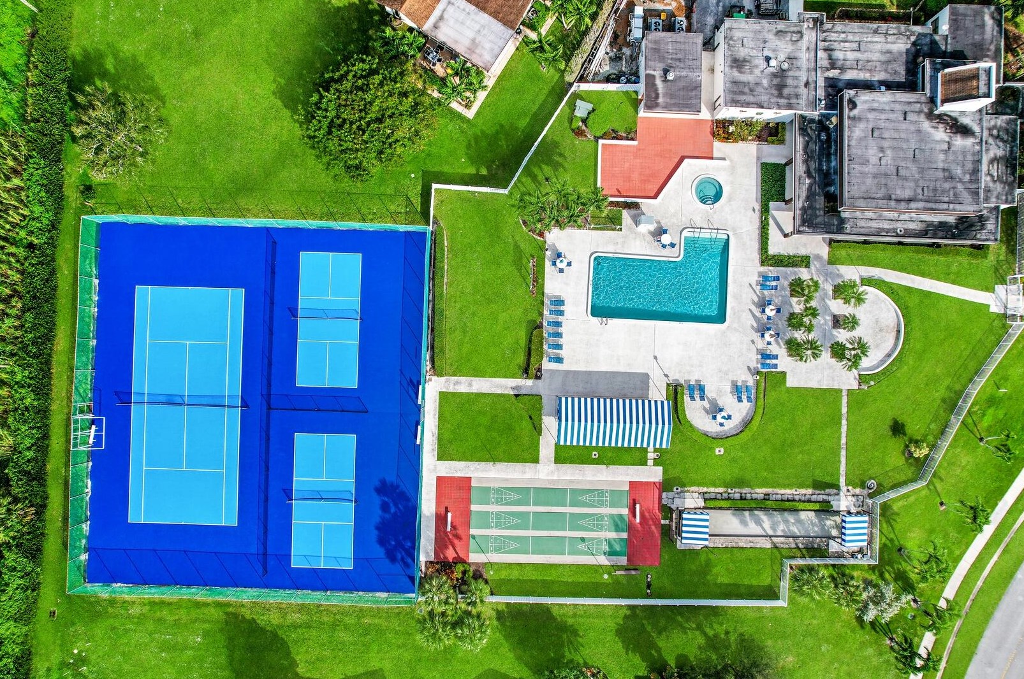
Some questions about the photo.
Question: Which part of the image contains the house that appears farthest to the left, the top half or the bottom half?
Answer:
top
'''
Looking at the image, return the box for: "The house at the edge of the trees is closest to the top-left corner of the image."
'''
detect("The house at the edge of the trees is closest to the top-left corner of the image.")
[376,0,545,75]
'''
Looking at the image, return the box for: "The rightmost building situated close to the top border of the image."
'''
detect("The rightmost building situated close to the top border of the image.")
[714,4,1024,243]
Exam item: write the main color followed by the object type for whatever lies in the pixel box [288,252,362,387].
blue sports court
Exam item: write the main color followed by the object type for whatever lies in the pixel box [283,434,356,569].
blue sports court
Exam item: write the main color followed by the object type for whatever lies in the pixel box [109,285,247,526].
blue tennis court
